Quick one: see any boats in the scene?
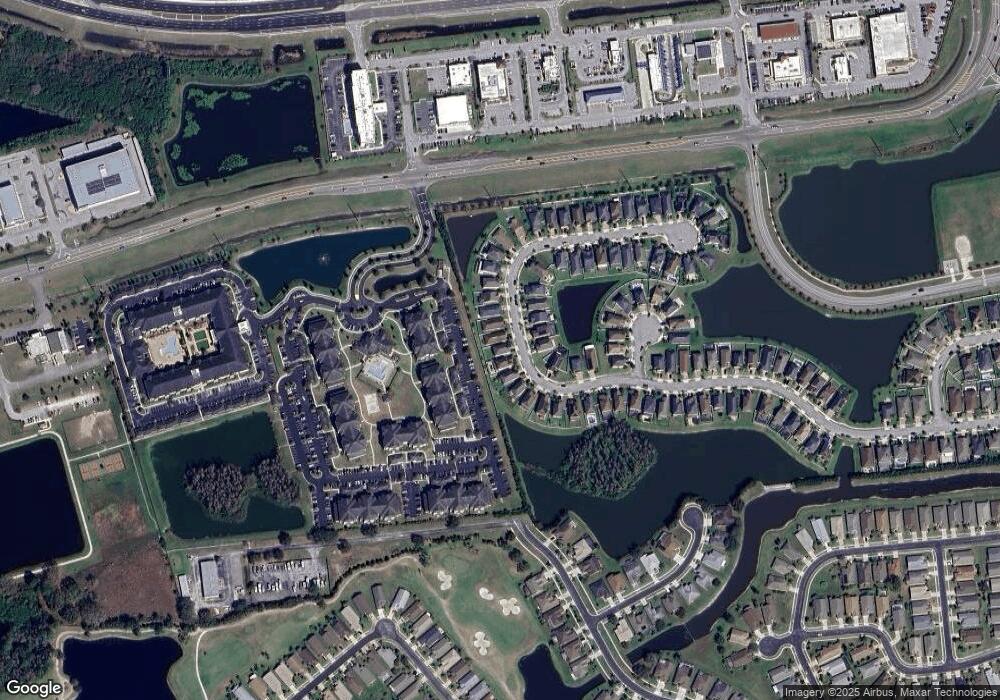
No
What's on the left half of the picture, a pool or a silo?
pool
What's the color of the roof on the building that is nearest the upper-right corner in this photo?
white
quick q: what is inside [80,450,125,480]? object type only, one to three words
sports court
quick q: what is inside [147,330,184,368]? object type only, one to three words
swimming pool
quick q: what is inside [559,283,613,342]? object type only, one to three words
pond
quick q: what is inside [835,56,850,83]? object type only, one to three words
building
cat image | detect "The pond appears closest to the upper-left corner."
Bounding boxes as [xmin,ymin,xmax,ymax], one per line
[0,102,77,144]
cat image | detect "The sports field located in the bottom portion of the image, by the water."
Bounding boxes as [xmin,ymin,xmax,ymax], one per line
[62,409,118,452]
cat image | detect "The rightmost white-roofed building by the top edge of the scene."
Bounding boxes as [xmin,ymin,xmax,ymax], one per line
[867,12,912,76]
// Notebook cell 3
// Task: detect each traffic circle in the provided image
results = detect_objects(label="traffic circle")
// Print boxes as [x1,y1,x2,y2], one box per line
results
[339,293,385,331]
